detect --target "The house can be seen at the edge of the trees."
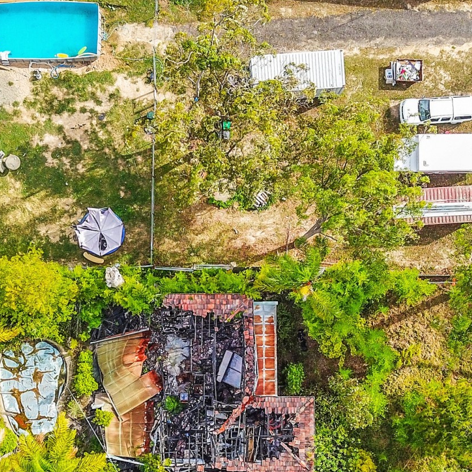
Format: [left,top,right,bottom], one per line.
[141,294,316,472]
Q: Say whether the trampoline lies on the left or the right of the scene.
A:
left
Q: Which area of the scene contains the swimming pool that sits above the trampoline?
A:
top left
